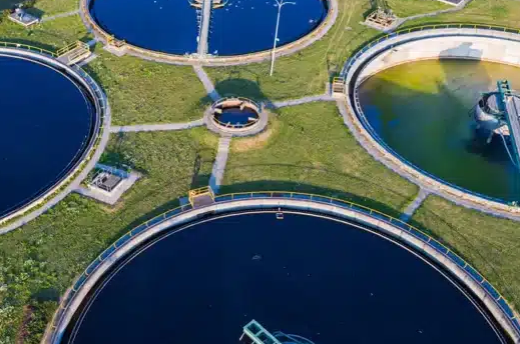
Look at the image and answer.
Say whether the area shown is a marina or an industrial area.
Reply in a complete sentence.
What you see here is an industrial area.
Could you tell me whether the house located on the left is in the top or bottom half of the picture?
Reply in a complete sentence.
The house located on the left is in the top half of the image.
